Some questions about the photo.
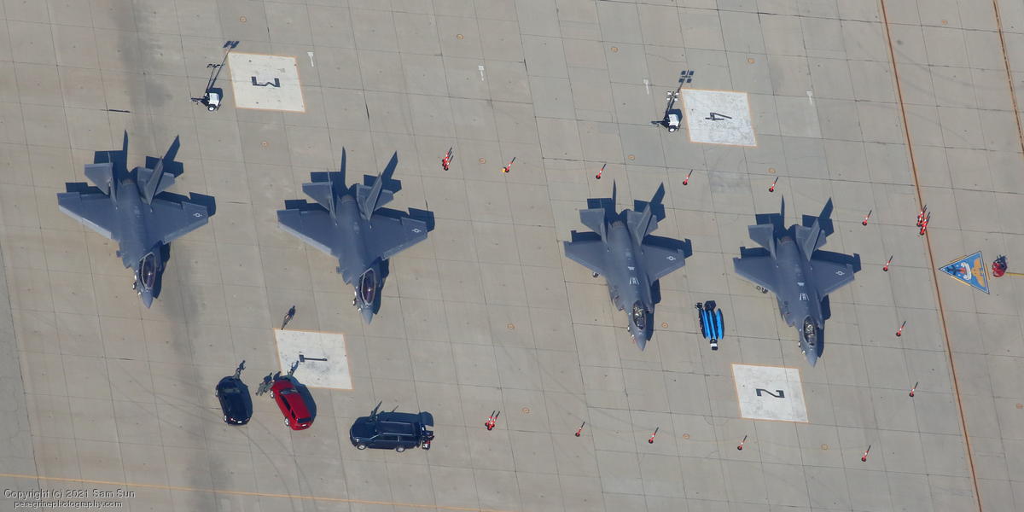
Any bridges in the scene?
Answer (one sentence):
No, I find no bridge anywhere in the image.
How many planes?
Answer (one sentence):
The number of planes here is 4.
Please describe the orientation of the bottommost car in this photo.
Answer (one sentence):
Seen from above, the bottommost car lies from left to right.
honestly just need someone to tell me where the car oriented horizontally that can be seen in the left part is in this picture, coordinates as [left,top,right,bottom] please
[348,420,429,453]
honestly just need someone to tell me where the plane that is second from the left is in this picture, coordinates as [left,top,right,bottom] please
[280,170,430,323]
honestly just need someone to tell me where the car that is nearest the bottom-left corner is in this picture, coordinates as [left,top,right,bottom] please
[214,381,250,429]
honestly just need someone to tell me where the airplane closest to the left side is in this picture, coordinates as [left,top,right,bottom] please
[60,156,210,309]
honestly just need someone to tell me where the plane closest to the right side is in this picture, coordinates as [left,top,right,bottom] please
[734,221,856,367]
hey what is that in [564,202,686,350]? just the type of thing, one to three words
airplane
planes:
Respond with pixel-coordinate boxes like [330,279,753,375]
[60,156,210,309]
[280,170,430,323]
[564,202,686,350]
[734,221,856,367]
